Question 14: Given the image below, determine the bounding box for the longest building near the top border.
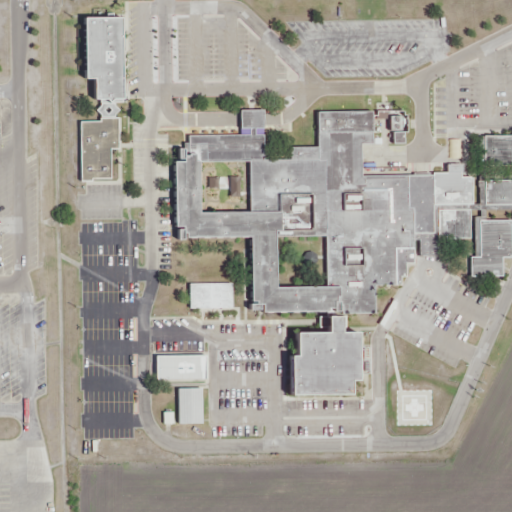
[85,17,125,100]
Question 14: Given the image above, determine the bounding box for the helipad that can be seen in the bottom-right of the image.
[396,390,433,426]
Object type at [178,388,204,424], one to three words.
shed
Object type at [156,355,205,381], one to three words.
building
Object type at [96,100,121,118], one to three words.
building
